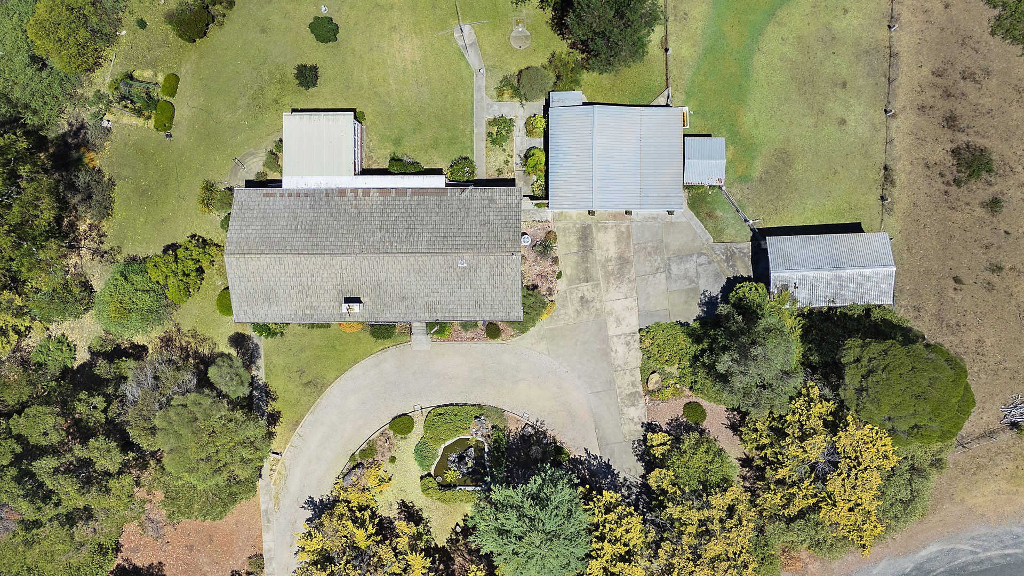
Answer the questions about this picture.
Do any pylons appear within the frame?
No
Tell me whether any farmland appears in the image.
Yes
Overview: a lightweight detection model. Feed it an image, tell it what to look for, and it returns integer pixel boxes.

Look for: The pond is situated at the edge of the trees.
[433,435,490,488]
